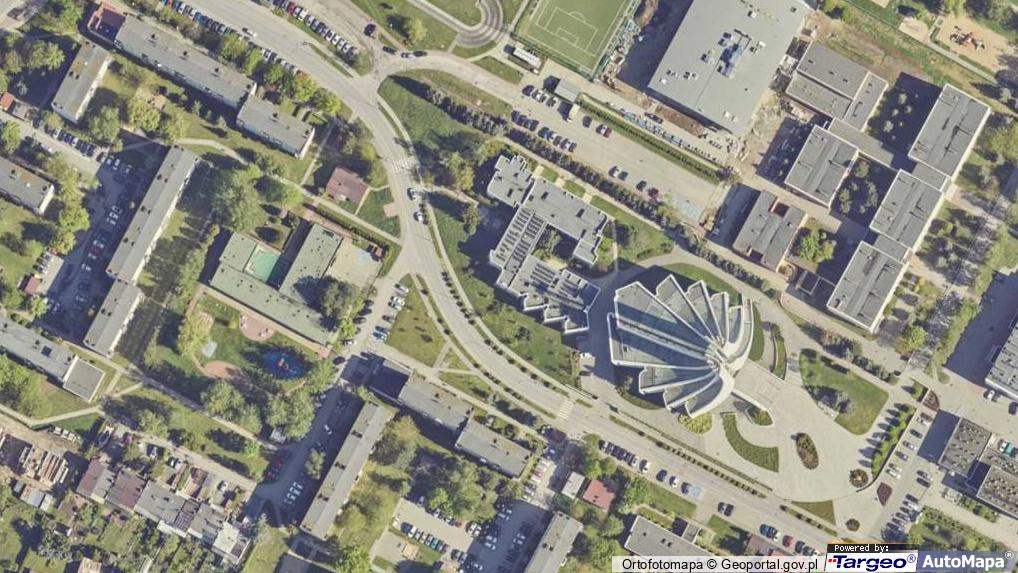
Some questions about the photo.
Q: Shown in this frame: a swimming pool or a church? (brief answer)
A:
church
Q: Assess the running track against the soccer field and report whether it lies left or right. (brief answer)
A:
on the left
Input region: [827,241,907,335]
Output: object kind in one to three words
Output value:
building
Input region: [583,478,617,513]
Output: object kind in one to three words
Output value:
house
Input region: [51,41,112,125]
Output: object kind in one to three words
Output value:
building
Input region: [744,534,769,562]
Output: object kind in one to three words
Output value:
shed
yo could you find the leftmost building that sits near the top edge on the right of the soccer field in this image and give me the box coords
[648,0,817,140]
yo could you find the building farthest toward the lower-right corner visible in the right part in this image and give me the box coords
[977,467,1018,519]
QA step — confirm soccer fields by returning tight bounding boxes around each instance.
[517,0,632,74]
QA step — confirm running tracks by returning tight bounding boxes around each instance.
[405,0,501,45]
